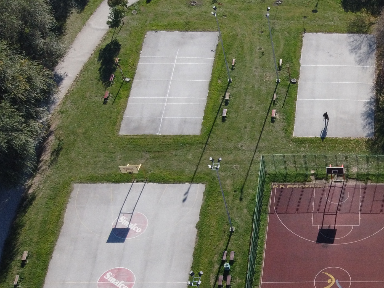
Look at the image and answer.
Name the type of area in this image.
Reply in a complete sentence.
It's a sports ground.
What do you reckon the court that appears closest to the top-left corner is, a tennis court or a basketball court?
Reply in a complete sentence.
The court that appears closest to the top-left corner appears to be a tennis court.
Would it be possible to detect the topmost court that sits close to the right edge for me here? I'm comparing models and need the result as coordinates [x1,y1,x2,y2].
[294,33,376,137]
